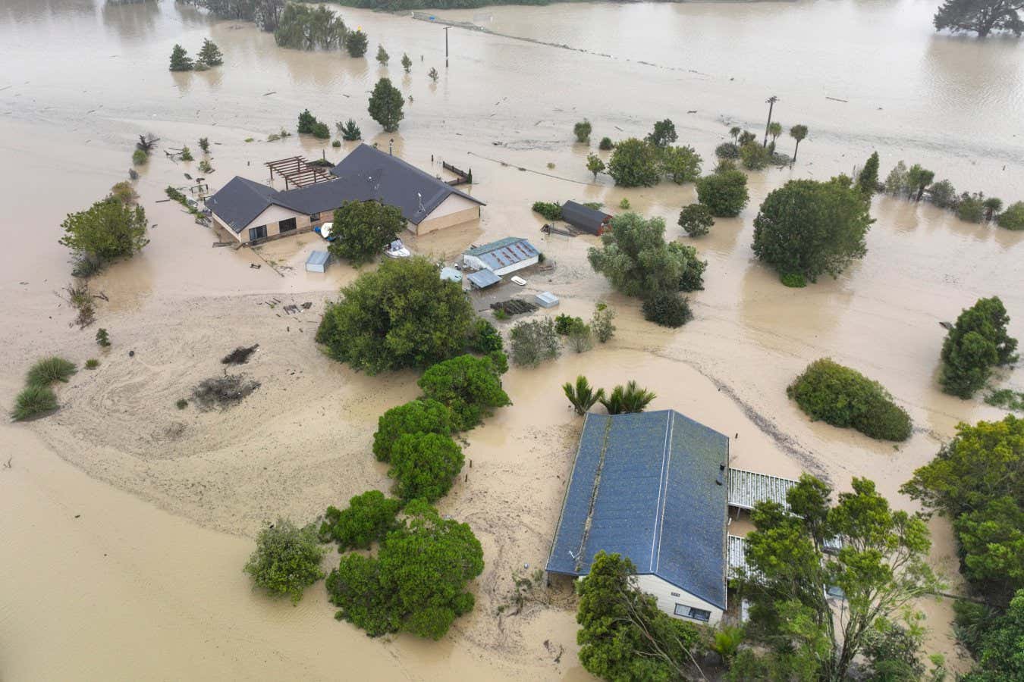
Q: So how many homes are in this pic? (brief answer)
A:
two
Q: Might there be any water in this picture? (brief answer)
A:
Yes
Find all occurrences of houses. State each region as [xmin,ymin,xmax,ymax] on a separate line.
[206,140,487,244]
[541,408,817,626]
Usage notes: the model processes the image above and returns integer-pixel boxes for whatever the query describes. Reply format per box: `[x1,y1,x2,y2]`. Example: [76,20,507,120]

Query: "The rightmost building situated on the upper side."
[561,205,618,239]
